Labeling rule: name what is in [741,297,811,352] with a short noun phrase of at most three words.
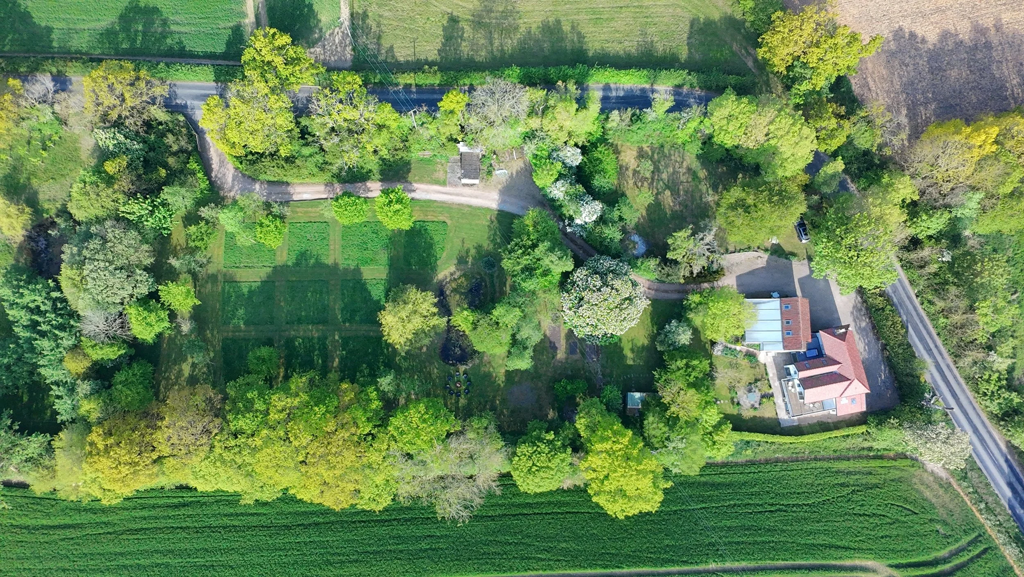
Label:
building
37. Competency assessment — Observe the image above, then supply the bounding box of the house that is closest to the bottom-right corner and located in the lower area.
[776,323,870,418]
